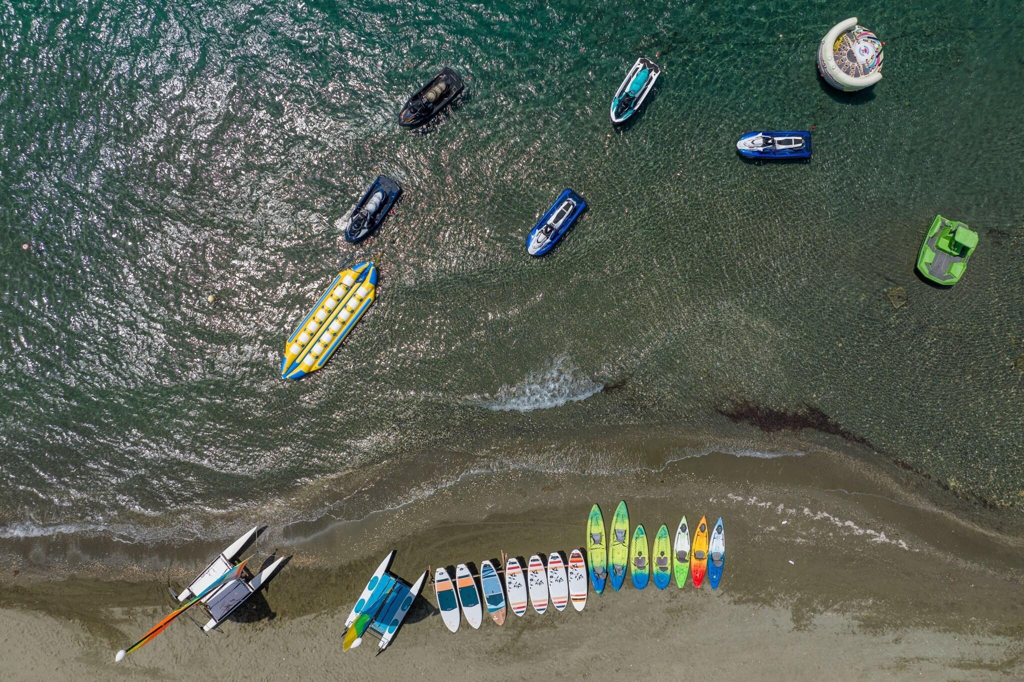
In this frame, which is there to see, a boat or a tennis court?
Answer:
boat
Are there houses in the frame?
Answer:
No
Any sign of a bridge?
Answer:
No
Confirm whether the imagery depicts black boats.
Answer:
Yes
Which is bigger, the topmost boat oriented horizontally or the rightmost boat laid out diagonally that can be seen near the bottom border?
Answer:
the rightmost boat laid out diagonally that can be seen near the bottom border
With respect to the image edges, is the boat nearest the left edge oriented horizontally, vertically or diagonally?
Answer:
diagonally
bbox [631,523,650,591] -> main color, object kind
green boat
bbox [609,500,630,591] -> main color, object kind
green boat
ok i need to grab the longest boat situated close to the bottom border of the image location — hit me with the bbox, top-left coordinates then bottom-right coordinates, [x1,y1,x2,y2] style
[113,524,286,663]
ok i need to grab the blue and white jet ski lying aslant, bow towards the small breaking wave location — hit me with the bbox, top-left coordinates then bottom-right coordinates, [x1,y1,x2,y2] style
[530,191,586,255]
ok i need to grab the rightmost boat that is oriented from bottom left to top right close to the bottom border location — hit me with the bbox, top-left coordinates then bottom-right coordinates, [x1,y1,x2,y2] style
[337,548,426,662]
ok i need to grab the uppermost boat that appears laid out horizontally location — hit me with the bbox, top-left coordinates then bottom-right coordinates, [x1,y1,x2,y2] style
[736,131,811,160]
